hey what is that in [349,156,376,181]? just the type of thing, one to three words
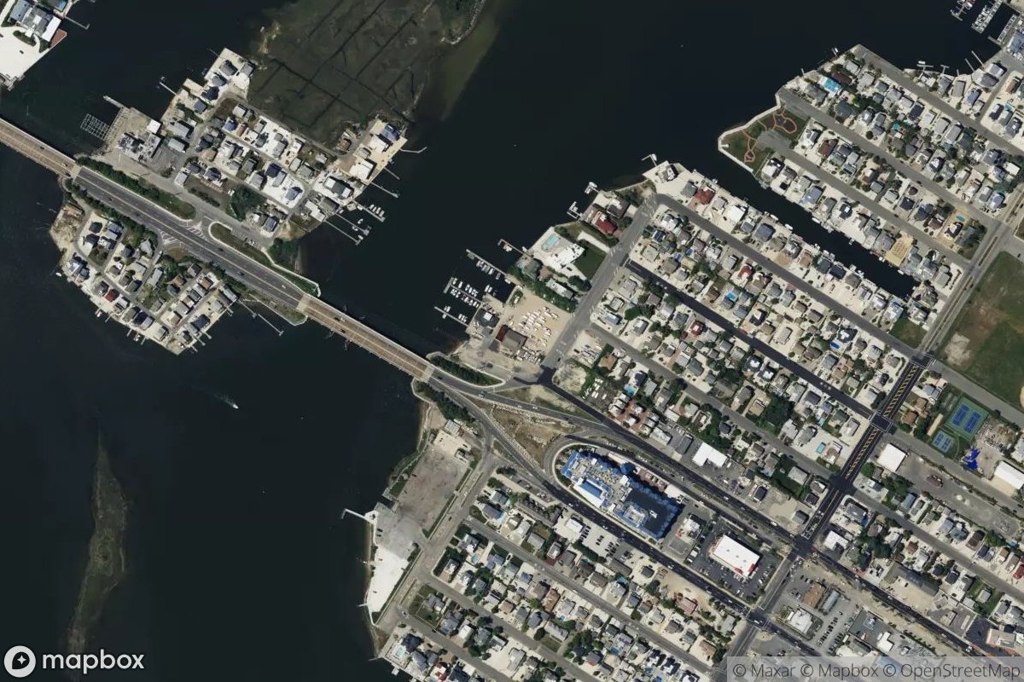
house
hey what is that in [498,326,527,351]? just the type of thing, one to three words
shed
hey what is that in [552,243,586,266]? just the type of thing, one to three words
house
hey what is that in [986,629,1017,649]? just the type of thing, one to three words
building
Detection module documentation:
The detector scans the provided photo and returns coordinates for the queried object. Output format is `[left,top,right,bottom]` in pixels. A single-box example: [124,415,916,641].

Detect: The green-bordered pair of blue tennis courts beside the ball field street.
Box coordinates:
[945,396,989,443]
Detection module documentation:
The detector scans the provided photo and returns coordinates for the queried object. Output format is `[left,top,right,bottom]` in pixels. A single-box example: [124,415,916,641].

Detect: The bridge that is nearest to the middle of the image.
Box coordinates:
[299,295,434,379]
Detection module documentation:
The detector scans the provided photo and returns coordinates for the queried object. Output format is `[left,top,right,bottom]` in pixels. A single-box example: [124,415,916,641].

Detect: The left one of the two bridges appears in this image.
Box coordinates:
[0,119,78,176]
